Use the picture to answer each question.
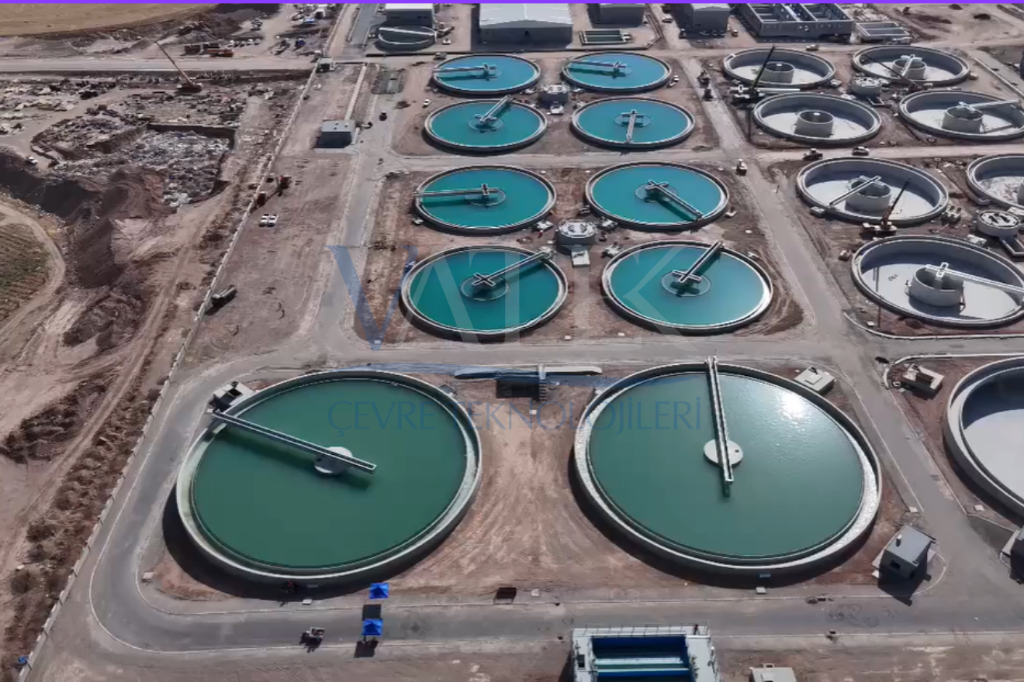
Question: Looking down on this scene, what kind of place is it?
industrial area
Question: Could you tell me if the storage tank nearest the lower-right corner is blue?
No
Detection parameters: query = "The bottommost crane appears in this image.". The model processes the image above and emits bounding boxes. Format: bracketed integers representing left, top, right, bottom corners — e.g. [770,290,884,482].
[860,182,909,235]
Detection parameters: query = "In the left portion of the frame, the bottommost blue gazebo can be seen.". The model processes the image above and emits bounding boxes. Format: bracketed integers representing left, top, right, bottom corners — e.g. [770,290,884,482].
[361,618,385,642]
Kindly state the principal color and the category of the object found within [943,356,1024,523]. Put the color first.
white storage tank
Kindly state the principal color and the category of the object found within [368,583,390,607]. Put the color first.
blue gazebo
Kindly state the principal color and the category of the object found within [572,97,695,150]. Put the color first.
blue storage tank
